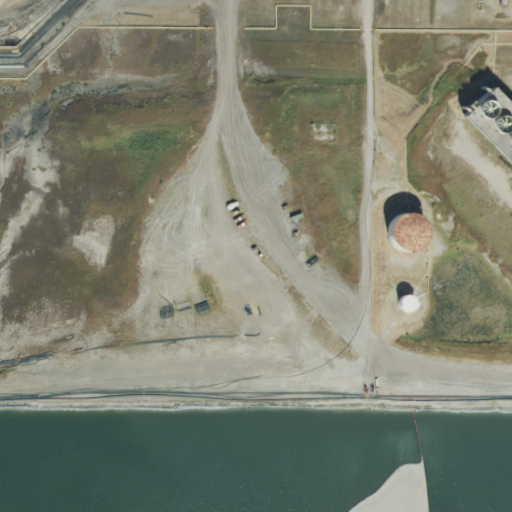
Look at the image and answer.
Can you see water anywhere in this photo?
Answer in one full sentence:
Yes, the picture does contain water.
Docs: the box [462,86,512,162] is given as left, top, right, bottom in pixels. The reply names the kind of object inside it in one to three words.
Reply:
cooling tower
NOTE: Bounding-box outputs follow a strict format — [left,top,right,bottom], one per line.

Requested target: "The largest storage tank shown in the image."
[386,212,433,252]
